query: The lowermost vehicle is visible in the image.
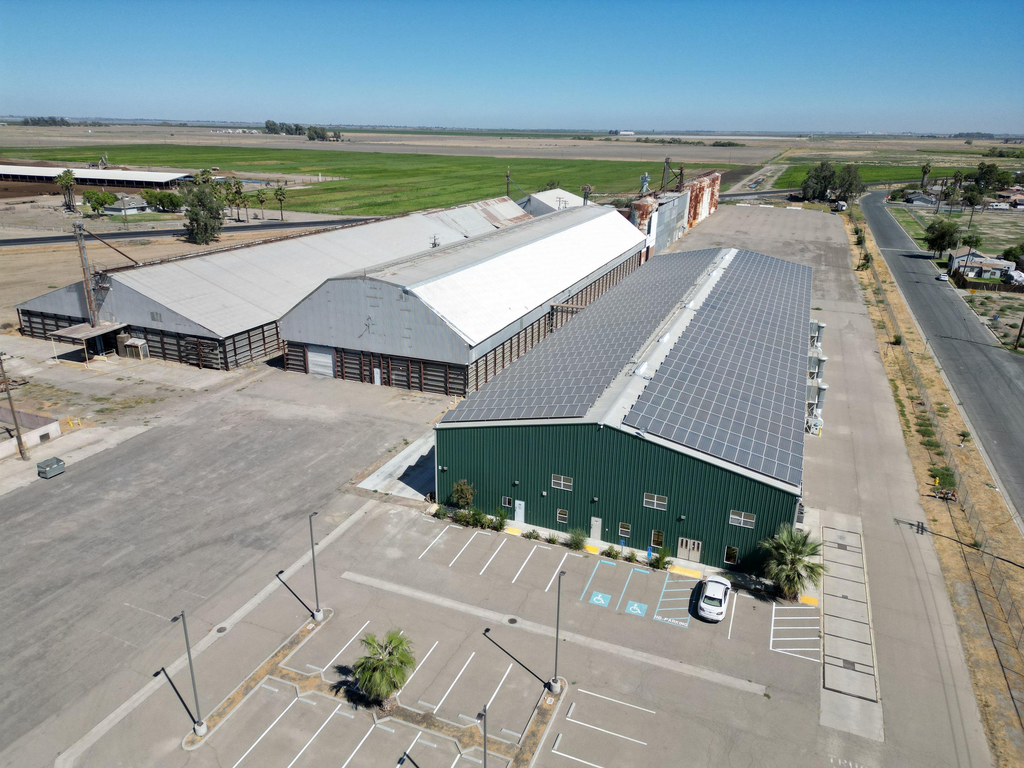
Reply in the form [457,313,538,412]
[698,573,735,622]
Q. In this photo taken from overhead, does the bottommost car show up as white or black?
white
